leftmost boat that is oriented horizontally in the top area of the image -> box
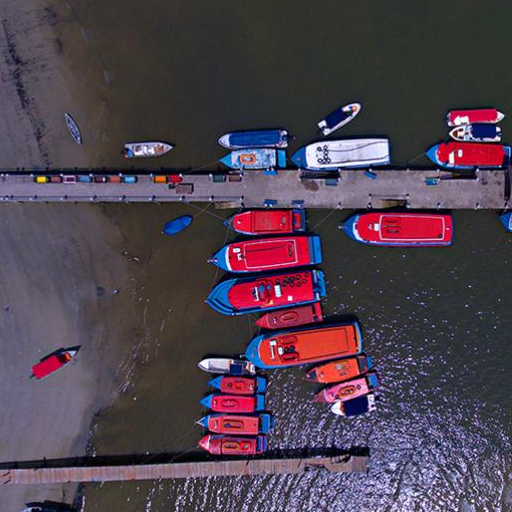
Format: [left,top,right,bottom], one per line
[122,140,174,157]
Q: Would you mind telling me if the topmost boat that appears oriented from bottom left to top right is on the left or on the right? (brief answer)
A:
right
